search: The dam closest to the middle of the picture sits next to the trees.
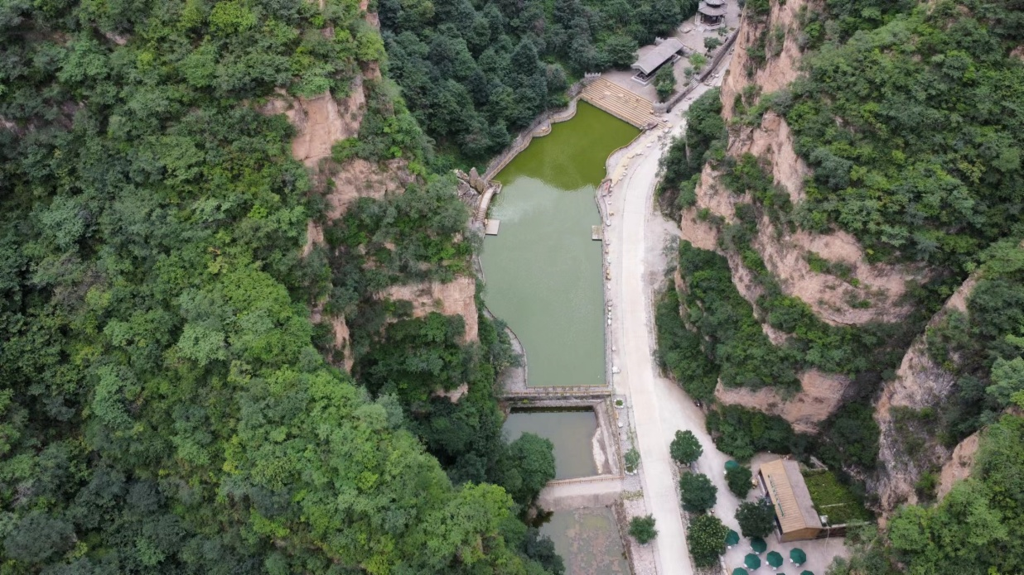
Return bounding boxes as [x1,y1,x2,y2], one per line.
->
[500,385,612,415]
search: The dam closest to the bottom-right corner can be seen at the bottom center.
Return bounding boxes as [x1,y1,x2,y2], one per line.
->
[533,474,623,509]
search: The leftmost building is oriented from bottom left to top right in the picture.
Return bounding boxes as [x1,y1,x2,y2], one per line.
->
[630,35,685,81]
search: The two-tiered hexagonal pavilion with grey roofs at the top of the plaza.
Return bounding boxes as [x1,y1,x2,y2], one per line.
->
[696,0,730,33]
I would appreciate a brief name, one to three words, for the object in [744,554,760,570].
umbrella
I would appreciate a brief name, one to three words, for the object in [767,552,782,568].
umbrella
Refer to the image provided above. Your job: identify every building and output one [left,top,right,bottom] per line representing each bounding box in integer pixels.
[696,0,730,33]
[752,463,824,541]
[630,35,685,81]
